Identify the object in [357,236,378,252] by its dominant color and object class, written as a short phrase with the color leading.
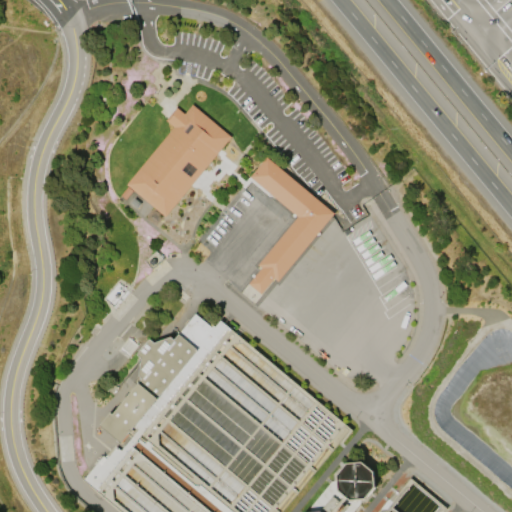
white vehicle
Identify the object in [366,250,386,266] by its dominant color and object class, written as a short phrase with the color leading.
white vehicle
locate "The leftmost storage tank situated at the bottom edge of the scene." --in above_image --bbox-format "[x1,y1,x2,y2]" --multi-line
[338,462,374,500]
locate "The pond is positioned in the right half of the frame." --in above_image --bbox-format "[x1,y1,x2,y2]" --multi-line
[434,326,512,489]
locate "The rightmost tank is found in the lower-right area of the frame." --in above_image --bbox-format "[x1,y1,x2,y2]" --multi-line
[382,476,442,512]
